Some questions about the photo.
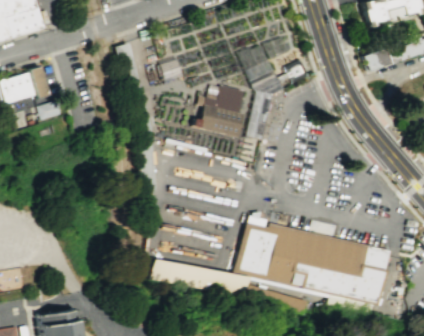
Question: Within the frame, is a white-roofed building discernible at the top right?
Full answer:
Yes, at the top right there is a white-roofed building.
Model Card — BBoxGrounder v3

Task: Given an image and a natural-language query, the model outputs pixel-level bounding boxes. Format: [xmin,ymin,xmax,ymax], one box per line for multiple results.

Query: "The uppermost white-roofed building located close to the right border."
[360,0,424,27]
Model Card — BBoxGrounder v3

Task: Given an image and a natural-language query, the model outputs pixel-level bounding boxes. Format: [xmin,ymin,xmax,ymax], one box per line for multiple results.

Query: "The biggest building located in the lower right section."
[229,223,391,302]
